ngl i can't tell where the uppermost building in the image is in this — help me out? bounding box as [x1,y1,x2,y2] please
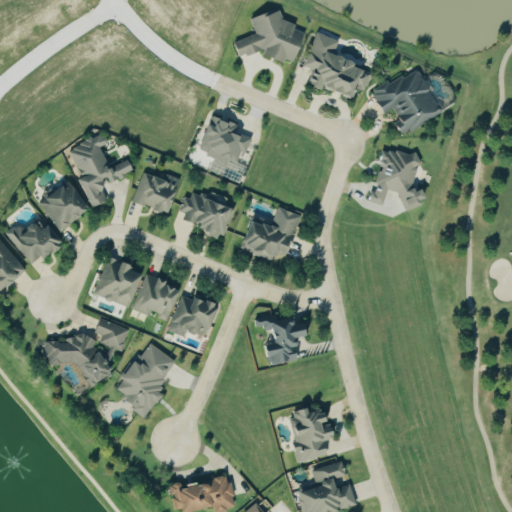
[235,8,306,62]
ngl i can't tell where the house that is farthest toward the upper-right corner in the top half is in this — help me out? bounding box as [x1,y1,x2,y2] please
[374,67,446,136]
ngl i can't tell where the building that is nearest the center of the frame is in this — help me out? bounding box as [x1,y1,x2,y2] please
[244,207,302,262]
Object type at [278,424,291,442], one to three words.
swimming pool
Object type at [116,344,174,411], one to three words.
house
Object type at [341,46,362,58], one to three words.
swimming pool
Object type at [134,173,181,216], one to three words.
house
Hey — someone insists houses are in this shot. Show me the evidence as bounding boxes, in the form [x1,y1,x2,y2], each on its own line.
[306,30,372,101]
[40,182,87,231]
[0,237,28,292]
[292,408,334,464]
[168,294,218,338]
[42,334,115,392]
[170,478,236,512]
[4,219,61,265]
[71,134,134,208]
[244,207,302,262]
[254,320,308,367]
[134,173,181,216]
[132,274,180,320]
[94,260,140,308]
[235,8,306,62]
[202,116,254,164]
[179,192,233,240]
[300,461,359,512]
[116,344,174,411]
[238,502,274,512]
[374,67,446,136]
[369,148,428,211]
